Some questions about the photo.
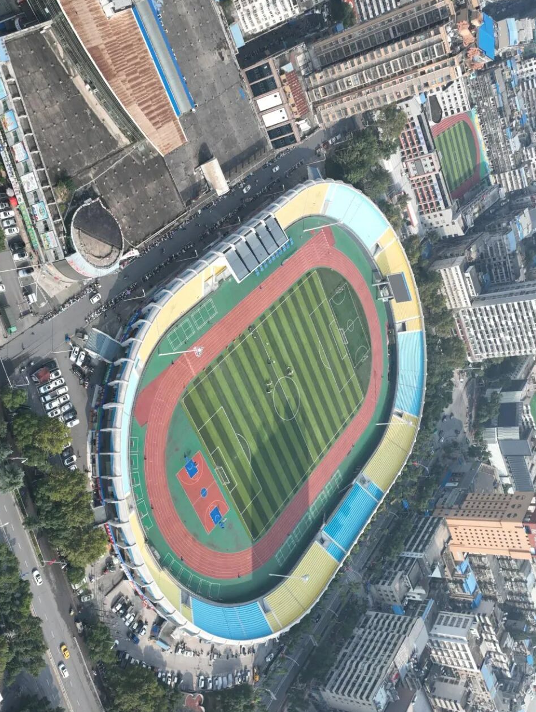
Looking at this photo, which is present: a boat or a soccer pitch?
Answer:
soccer pitch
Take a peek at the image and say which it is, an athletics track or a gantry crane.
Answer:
athletics track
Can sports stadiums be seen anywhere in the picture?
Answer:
Yes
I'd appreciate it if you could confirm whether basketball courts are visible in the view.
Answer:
Yes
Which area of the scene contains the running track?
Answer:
center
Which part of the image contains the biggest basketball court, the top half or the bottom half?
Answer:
bottom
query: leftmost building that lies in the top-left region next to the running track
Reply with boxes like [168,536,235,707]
[0,0,272,283]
